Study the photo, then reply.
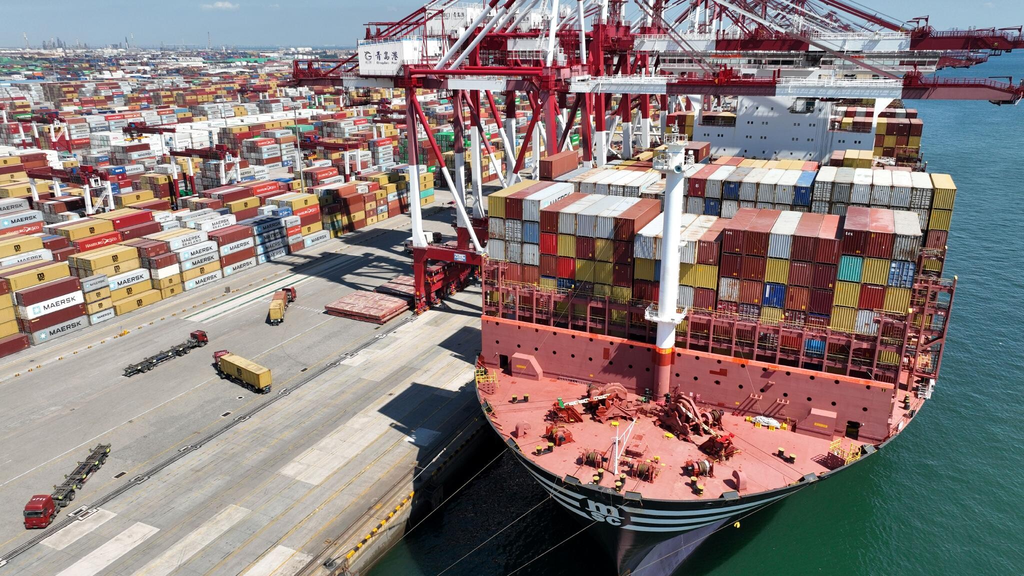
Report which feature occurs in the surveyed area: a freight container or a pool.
freight container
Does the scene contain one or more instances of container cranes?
Yes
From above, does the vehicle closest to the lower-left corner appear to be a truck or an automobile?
truck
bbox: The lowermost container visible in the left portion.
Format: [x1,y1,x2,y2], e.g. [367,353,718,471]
[222,353,281,383]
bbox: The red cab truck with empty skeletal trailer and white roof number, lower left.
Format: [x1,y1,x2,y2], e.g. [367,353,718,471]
[22,445,109,524]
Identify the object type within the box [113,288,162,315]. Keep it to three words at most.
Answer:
shipping container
